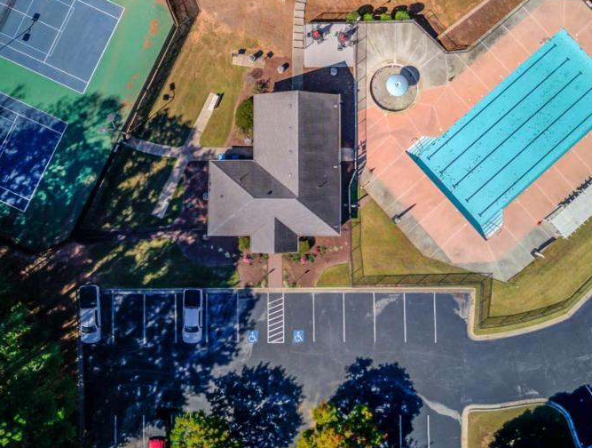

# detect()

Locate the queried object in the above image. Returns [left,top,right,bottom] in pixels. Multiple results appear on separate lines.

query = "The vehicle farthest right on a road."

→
[181,288,203,346]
